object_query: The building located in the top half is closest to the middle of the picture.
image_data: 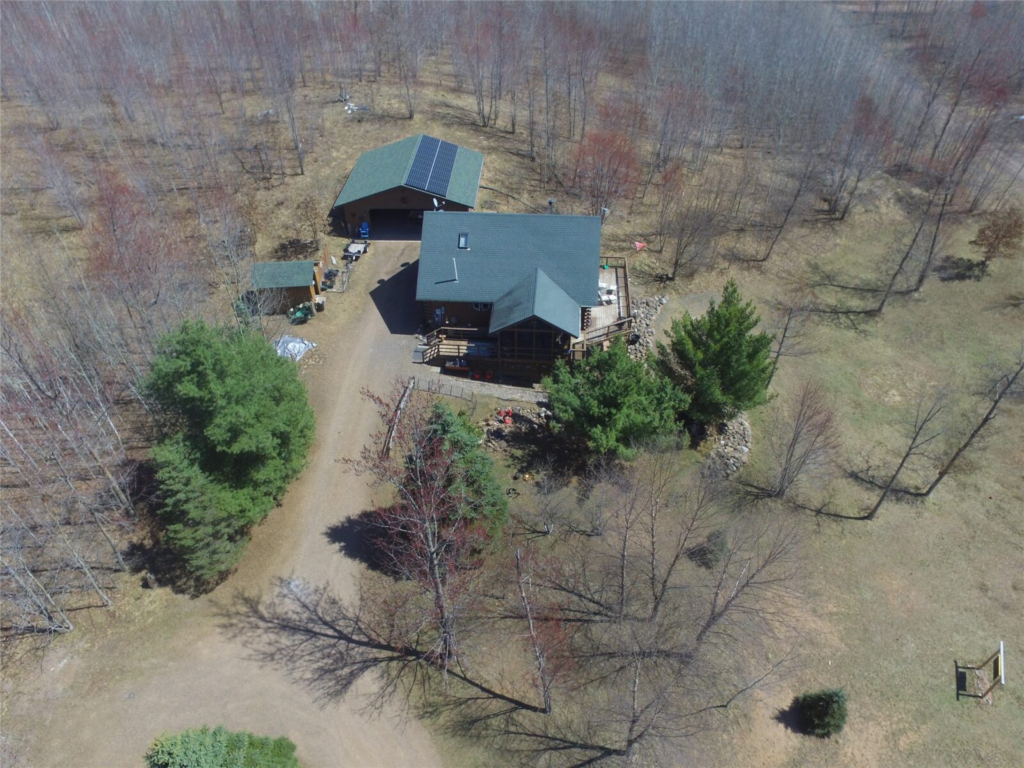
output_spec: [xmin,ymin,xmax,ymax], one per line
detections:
[417,201,601,392]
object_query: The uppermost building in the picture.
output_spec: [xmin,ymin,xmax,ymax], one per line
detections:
[335,135,485,243]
